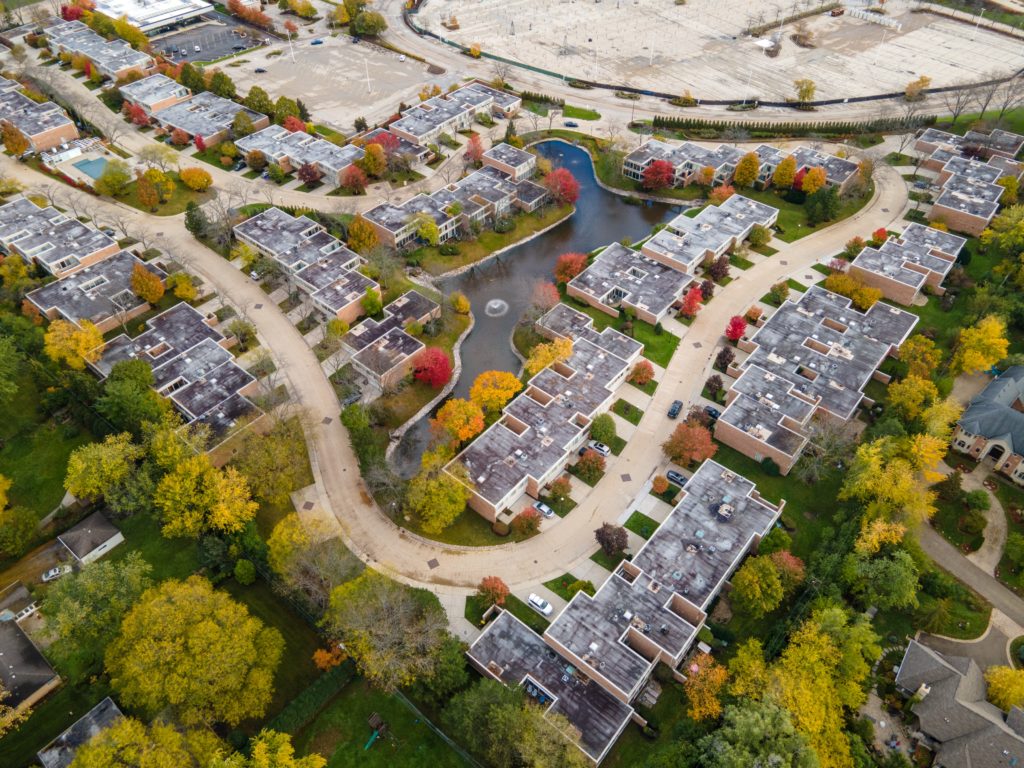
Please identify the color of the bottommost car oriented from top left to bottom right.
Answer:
white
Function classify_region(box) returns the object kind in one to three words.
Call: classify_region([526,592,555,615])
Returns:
car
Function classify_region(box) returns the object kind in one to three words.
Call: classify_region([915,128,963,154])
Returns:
house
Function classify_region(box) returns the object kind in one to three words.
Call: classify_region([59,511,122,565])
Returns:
building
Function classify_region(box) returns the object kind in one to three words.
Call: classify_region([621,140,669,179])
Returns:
house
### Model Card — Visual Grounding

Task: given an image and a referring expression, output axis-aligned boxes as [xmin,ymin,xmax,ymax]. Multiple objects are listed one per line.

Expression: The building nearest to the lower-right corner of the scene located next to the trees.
[881,627,1024,768]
